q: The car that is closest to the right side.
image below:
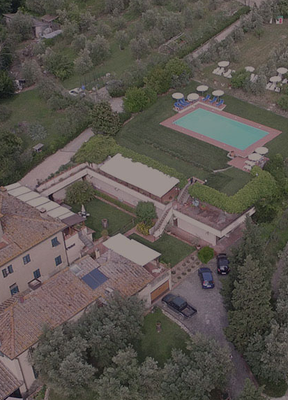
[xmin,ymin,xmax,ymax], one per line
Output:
[215,251,230,273]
